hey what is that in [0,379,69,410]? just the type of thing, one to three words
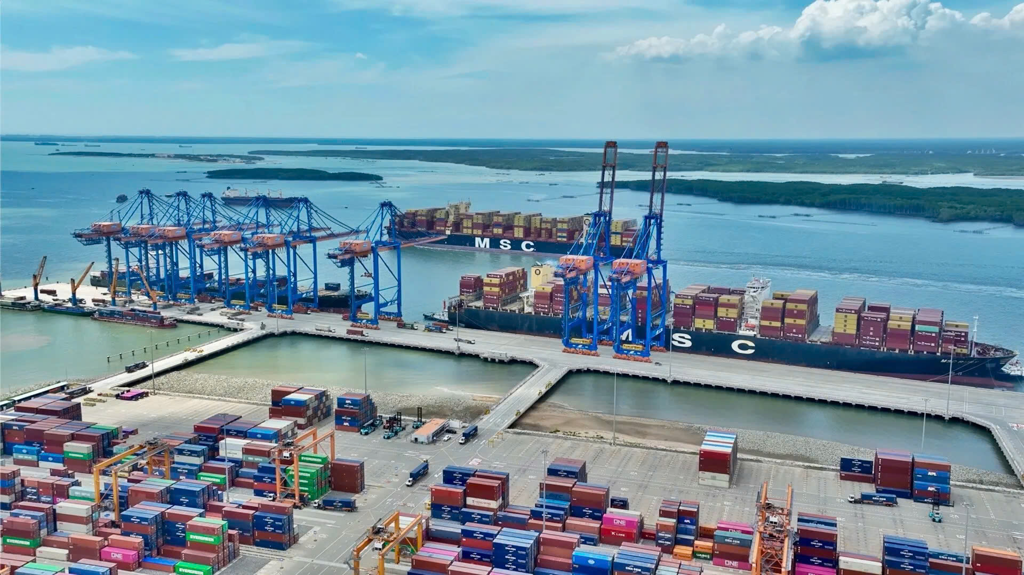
shed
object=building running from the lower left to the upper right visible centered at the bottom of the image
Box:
[407,411,454,441]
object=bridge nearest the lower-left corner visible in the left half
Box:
[90,329,280,388]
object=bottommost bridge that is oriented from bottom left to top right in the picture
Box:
[465,364,570,427]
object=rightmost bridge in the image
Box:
[989,421,1024,480]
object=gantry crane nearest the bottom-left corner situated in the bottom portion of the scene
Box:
[90,439,172,520]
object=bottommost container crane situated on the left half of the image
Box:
[342,508,427,575]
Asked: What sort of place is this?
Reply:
port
